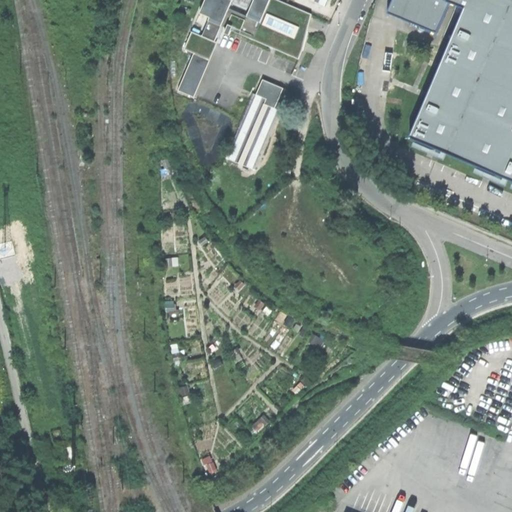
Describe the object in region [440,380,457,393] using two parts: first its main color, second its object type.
white vehicle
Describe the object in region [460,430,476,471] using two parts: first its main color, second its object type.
white vehicle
